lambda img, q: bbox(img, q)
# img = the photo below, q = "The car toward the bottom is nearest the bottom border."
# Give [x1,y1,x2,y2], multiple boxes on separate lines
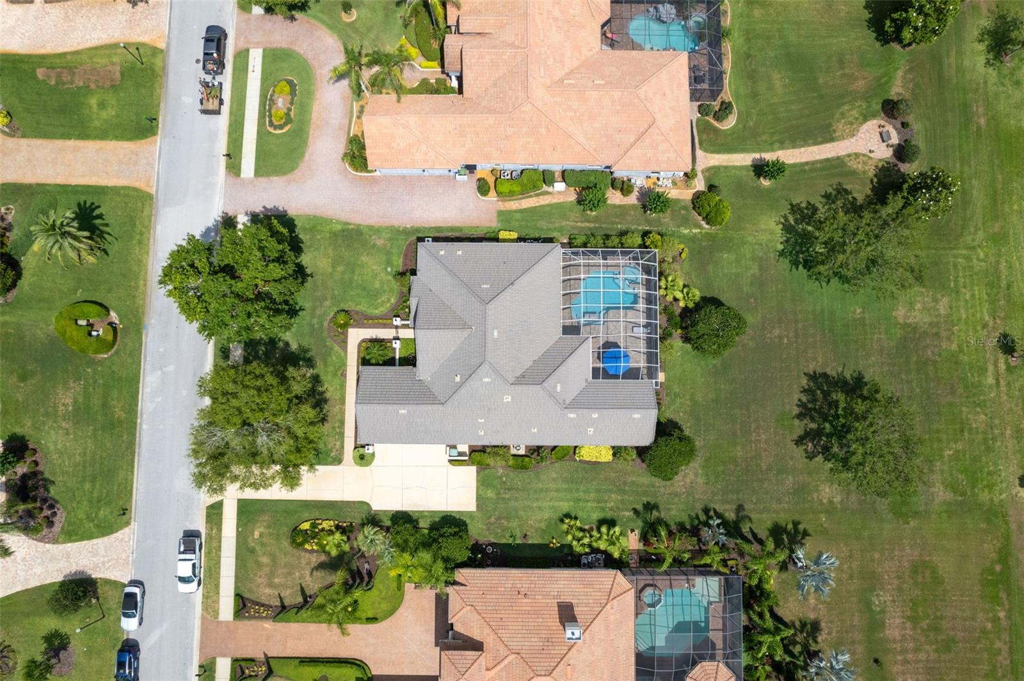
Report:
[112,645,140,681]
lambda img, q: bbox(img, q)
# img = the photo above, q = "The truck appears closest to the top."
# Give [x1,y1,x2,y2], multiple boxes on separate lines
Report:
[202,23,229,78]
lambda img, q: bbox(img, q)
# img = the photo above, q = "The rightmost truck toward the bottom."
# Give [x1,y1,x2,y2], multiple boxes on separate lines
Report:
[175,534,204,592]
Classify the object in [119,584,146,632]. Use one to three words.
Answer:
car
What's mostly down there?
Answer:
grass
